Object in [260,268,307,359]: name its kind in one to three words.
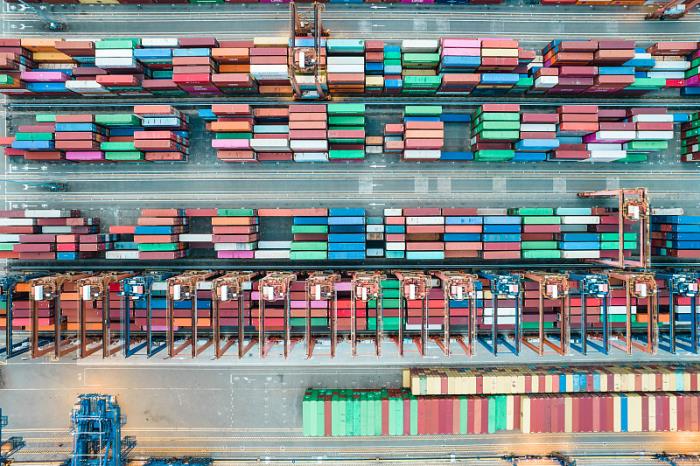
container crane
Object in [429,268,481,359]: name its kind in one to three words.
container crane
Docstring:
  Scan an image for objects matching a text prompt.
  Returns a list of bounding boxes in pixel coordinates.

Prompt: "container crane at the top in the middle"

[288,0,332,101]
